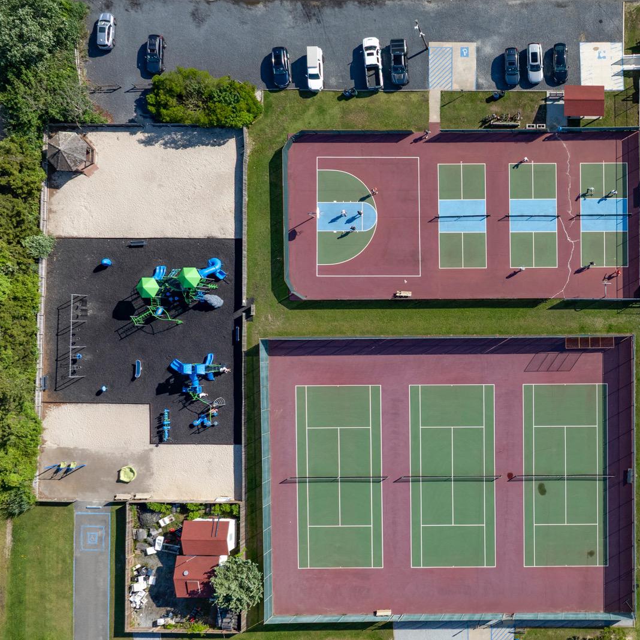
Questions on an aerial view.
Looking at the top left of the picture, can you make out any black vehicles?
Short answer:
Yes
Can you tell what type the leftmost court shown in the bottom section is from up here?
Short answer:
tennis court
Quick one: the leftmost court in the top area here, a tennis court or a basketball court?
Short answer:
basketball court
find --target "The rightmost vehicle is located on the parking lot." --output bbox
[554,43,570,84]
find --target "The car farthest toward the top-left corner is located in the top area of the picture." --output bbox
[96,12,117,50]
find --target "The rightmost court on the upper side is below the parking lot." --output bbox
[576,162,632,267]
